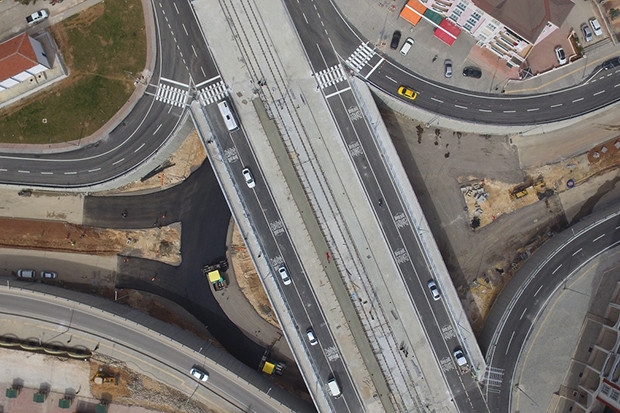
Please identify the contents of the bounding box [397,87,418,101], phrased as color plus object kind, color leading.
yellow car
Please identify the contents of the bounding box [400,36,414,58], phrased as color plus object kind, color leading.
white car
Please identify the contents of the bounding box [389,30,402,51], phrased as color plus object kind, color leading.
black vehicle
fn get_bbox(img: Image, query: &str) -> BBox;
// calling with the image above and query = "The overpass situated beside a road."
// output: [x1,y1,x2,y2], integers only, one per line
[186,0,496,413]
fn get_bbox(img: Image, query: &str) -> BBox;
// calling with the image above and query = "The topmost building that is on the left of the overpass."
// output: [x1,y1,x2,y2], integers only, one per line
[0,31,50,92]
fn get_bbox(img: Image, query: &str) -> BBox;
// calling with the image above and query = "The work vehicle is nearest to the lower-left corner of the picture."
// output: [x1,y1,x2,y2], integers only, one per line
[93,371,121,385]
